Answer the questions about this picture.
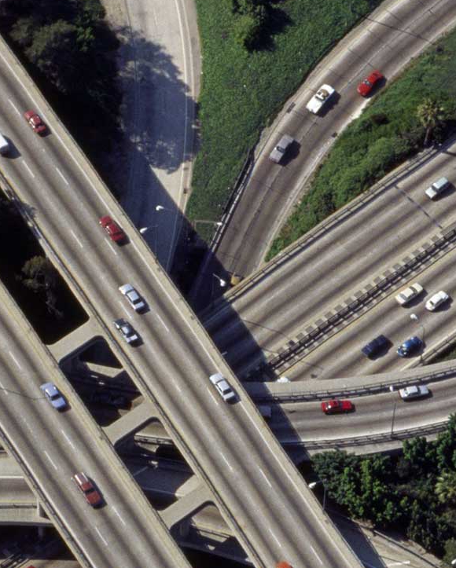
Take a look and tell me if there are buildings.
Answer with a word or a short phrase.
No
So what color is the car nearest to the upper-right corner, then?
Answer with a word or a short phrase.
red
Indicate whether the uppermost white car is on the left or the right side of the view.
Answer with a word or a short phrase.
right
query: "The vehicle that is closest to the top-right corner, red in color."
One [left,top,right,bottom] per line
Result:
[357,73,383,97]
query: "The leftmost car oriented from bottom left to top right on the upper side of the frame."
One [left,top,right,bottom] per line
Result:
[270,137,293,163]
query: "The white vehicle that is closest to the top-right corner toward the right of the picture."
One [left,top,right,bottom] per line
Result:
[308,86,335,114]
